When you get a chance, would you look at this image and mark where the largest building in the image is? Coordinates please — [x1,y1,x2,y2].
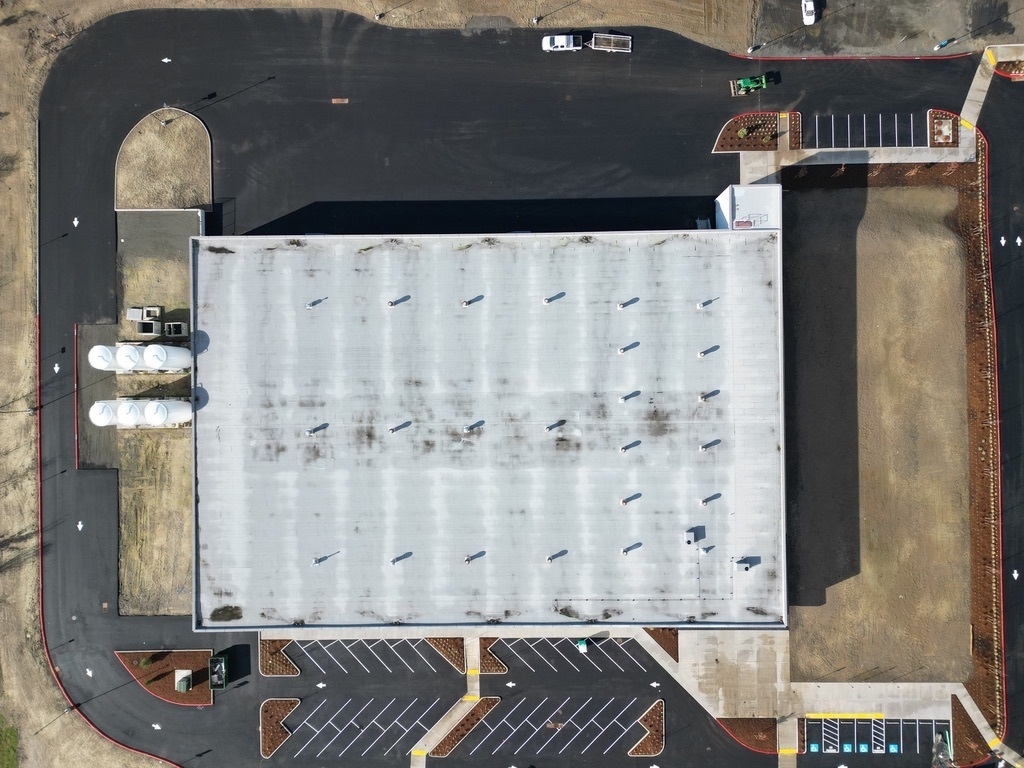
[191,184,787,632]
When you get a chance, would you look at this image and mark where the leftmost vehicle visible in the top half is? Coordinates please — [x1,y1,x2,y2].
[541,34,582,52]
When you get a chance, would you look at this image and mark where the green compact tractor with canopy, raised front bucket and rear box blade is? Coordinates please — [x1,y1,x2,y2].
[729,76,767,98]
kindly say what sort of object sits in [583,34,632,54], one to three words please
trailer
